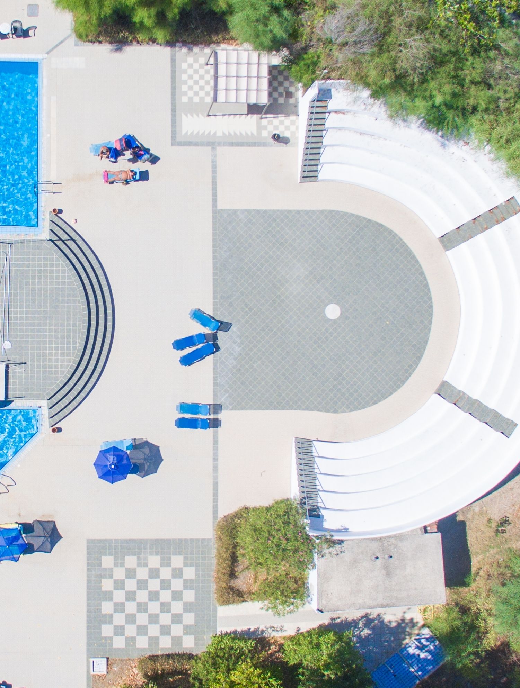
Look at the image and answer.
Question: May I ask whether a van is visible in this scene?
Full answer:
No, the picture doesn't show any van.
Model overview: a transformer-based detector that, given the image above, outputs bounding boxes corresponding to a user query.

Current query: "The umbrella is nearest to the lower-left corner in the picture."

[0,525,30,563]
